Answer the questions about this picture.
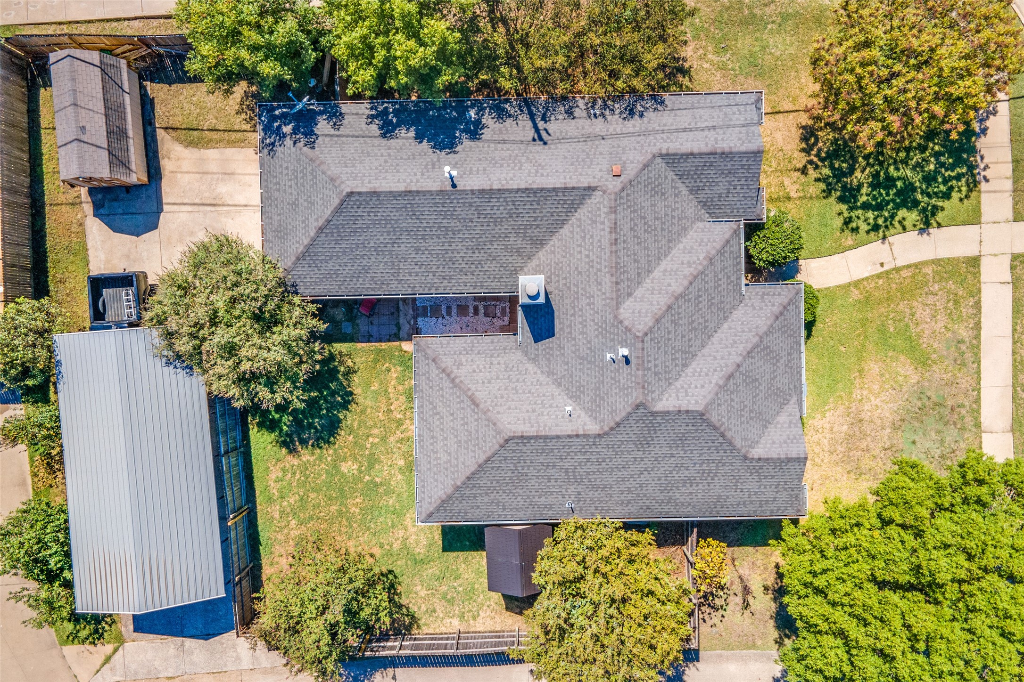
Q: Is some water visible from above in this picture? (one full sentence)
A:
No, there's no water in this view.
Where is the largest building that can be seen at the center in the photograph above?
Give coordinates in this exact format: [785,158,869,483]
[258,91,808,525]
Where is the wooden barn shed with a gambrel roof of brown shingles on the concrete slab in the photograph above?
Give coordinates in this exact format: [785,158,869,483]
[50,49,149,191]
